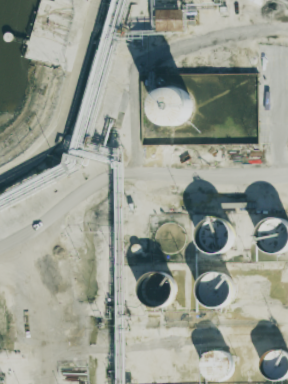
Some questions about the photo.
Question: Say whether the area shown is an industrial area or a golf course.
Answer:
industrial area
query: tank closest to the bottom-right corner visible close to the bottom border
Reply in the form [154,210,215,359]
[260,348,288,382]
